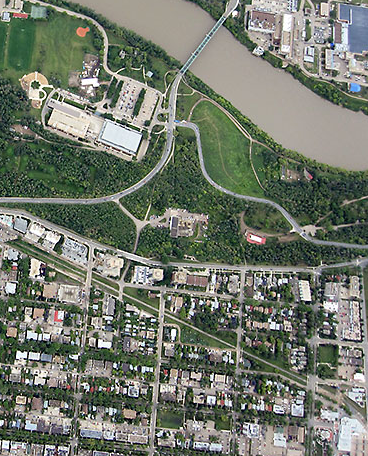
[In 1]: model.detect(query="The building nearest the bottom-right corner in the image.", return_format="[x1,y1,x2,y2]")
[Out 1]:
[337,419,366,451]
